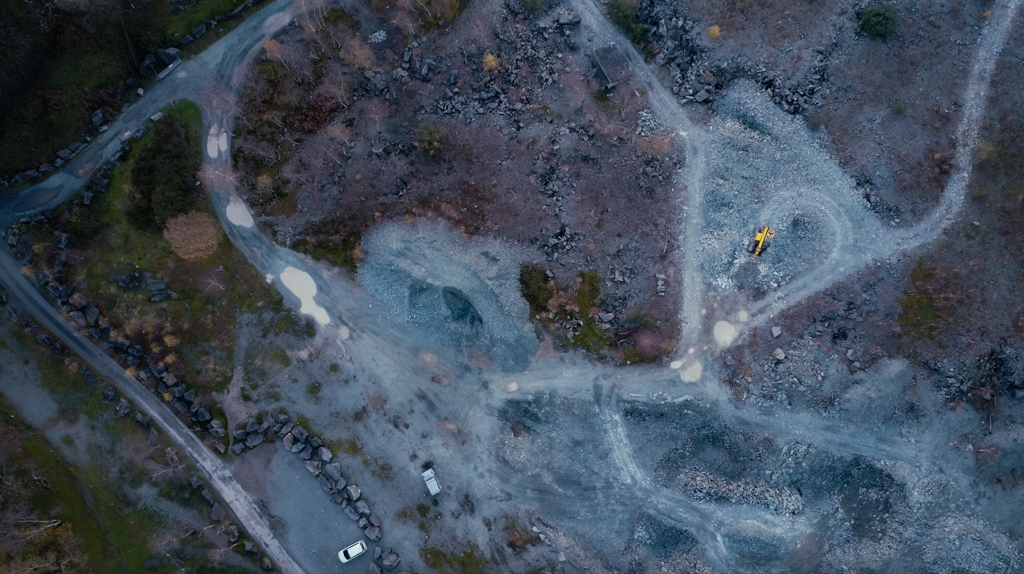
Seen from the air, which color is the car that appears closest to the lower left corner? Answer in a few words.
white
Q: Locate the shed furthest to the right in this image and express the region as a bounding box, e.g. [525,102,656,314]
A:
[591,46,633,88]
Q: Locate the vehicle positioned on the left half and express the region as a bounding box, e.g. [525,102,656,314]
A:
[338,540,368,563]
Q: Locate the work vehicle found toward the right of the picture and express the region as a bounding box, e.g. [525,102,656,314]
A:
[744,225,776,265]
